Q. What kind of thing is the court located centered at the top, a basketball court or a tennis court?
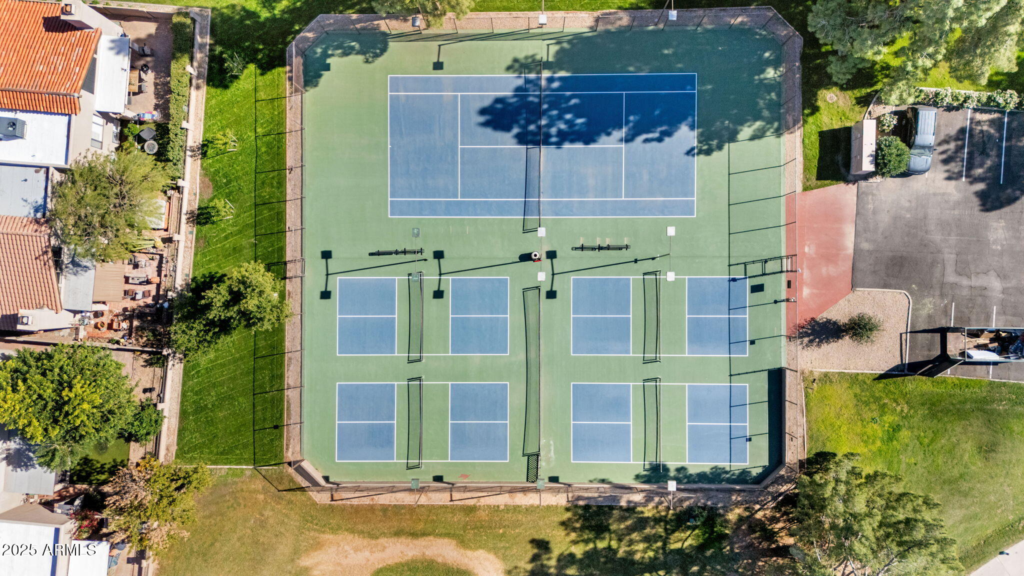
tennis court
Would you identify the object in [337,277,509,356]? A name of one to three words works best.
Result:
sports court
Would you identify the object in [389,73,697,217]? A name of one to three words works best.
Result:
tennis court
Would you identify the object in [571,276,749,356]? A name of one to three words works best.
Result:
sports court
